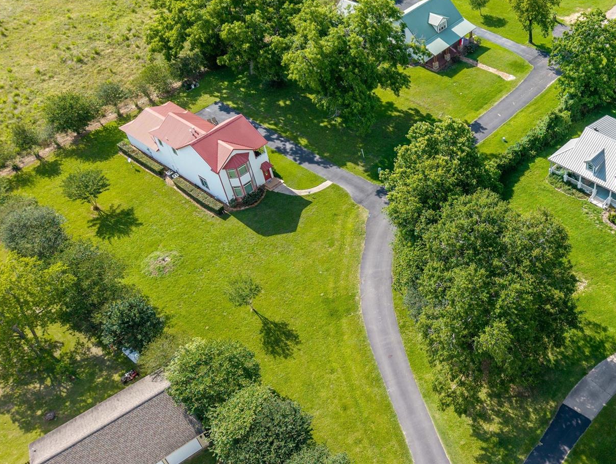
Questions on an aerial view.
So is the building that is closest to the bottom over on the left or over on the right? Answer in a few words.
left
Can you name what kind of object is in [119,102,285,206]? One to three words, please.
house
